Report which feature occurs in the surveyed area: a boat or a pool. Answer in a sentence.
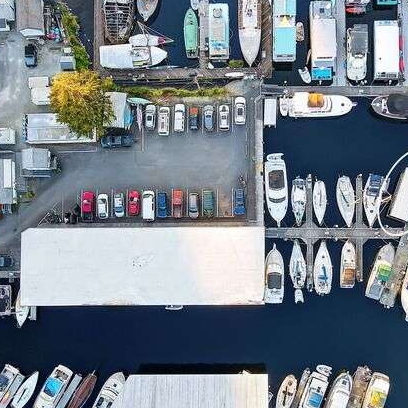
It is a boat that can be seen here.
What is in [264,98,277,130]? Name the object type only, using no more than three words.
shed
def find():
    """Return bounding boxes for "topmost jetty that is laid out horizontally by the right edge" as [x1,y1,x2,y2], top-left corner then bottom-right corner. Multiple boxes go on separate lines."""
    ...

[278,79,408,95]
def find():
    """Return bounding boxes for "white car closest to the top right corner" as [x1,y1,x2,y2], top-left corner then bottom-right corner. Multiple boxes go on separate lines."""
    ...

[234,98,246,125]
